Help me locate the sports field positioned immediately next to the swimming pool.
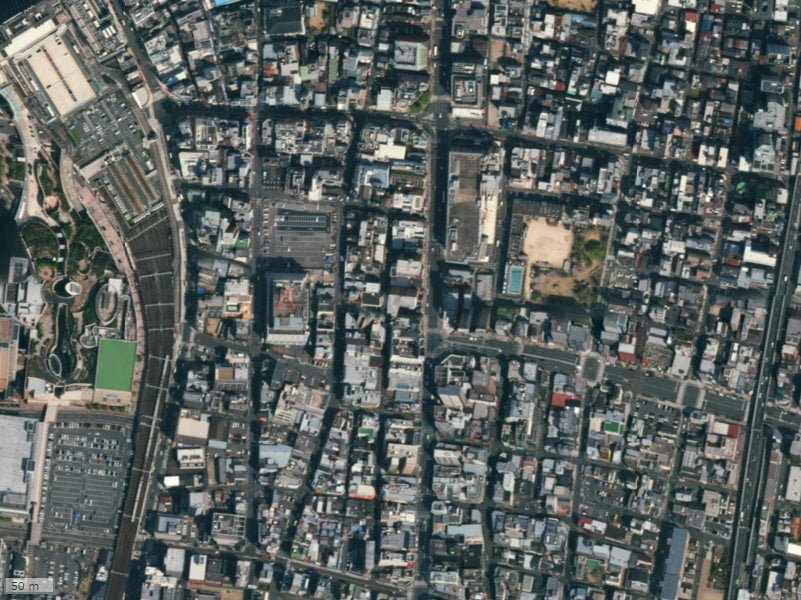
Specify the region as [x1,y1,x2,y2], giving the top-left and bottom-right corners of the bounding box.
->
[524,219,574,267]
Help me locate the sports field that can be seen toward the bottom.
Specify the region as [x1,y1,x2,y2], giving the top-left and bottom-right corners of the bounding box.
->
[95,337,138,393]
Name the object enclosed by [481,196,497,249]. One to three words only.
building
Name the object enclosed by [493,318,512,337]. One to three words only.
house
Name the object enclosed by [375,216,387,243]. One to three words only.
building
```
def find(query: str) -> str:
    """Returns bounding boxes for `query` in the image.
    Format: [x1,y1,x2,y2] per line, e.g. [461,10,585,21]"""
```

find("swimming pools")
[504,262,527,298]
